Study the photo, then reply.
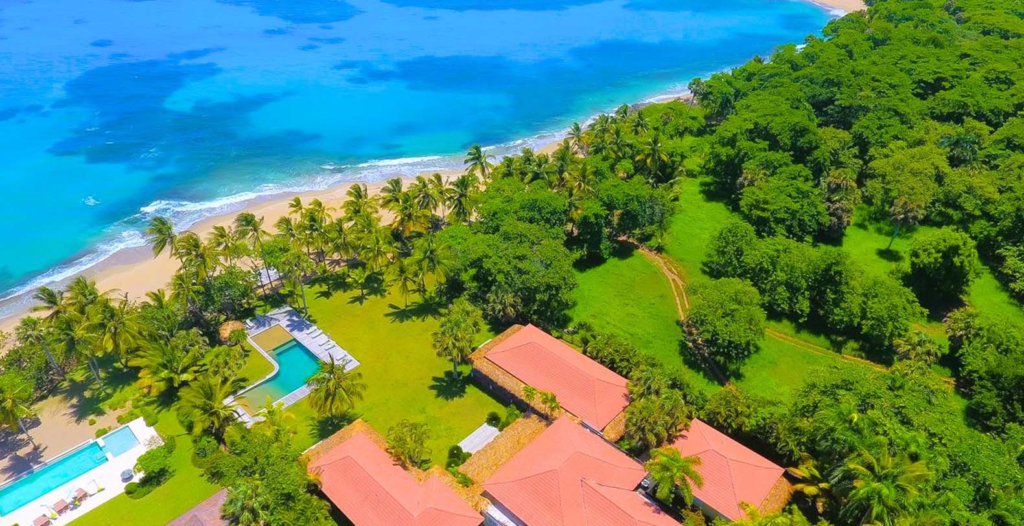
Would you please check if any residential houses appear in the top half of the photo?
No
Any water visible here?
Yes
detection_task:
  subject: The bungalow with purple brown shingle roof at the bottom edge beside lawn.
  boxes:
[169,488,259,526]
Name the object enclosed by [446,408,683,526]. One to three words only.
house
